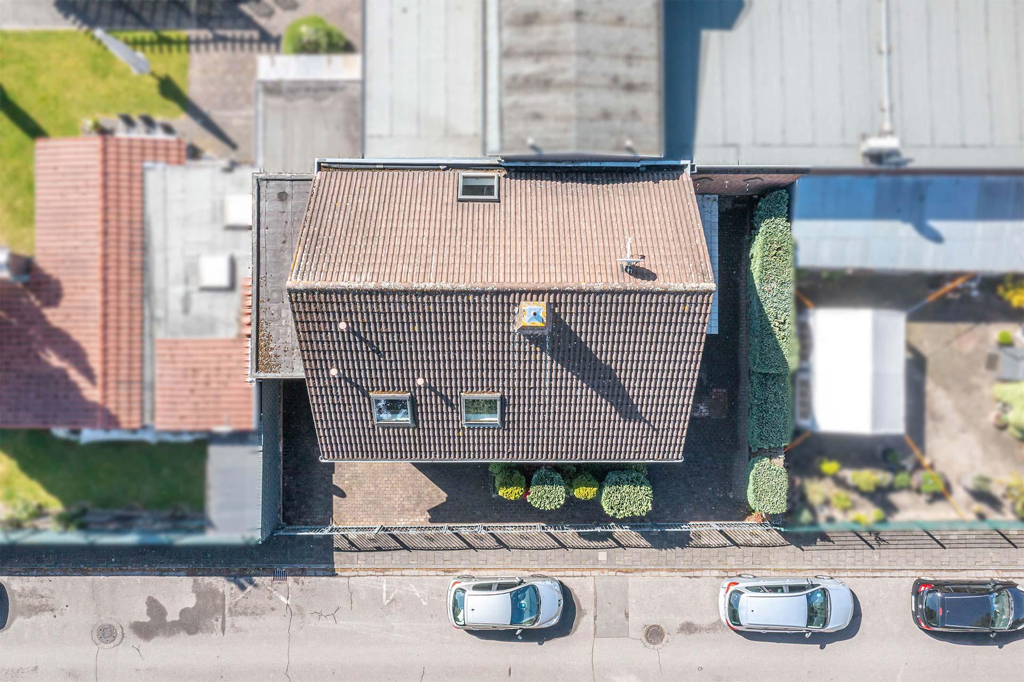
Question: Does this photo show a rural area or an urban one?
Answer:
urban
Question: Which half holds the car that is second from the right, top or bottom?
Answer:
bottom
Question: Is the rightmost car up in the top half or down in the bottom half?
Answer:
bottom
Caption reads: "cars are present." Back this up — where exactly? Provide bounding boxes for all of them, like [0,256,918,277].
[717,576,852,640]
[905,577,1024,641]
[447,575,563,638]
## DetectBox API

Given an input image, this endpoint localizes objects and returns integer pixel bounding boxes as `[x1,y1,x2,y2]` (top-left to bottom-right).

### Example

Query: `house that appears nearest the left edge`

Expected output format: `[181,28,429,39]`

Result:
[0,132,184,430]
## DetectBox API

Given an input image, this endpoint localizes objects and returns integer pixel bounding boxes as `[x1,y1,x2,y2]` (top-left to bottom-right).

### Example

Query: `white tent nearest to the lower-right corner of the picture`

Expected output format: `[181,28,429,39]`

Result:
[779,272,972,520]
